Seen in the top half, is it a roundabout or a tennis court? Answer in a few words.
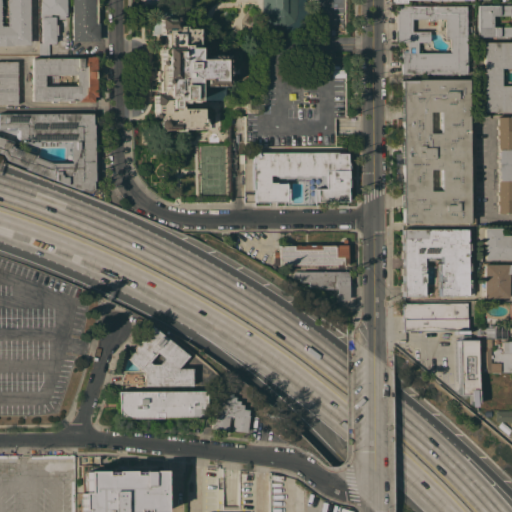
tennis court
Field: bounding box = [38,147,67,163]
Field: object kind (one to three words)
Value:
swimming pool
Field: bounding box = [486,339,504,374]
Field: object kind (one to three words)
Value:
house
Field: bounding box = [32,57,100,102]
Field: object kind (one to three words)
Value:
building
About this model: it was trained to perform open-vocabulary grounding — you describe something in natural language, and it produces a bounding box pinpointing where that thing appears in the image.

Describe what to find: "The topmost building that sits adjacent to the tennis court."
[152,20,232,130]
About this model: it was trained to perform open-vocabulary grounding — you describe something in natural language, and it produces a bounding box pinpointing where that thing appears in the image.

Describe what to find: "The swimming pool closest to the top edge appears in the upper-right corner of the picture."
[432,34,448,52]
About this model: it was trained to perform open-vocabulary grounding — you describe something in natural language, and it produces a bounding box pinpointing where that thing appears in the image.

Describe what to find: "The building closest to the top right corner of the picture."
[478,6,512,39]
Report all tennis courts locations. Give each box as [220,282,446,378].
[199,146,230,196]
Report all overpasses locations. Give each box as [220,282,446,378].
[334,328,395,512]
